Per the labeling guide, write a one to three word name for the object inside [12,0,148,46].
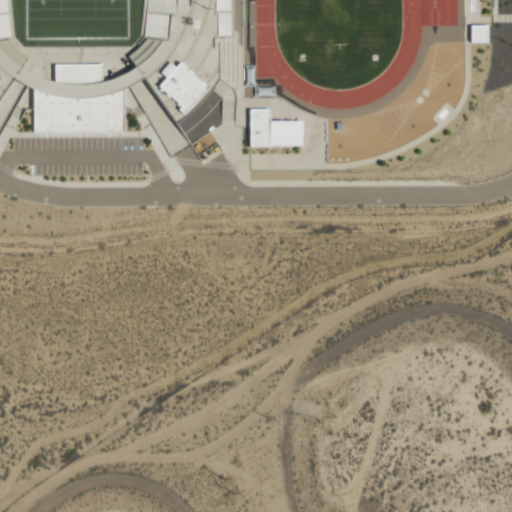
sports field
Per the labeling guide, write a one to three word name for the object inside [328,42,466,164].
sports field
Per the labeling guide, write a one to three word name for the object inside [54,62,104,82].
building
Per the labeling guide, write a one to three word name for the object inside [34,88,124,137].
building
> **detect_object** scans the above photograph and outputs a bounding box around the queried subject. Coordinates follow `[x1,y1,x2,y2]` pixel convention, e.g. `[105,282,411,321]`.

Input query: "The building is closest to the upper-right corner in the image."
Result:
[471,24,490,44]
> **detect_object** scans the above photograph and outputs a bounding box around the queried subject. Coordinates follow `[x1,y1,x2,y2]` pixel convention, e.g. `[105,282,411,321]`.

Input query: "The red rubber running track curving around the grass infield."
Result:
[256,0,466,118]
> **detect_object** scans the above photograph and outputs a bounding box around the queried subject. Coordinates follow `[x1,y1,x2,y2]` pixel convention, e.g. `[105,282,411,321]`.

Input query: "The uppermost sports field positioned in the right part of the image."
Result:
[276,0,403,90]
